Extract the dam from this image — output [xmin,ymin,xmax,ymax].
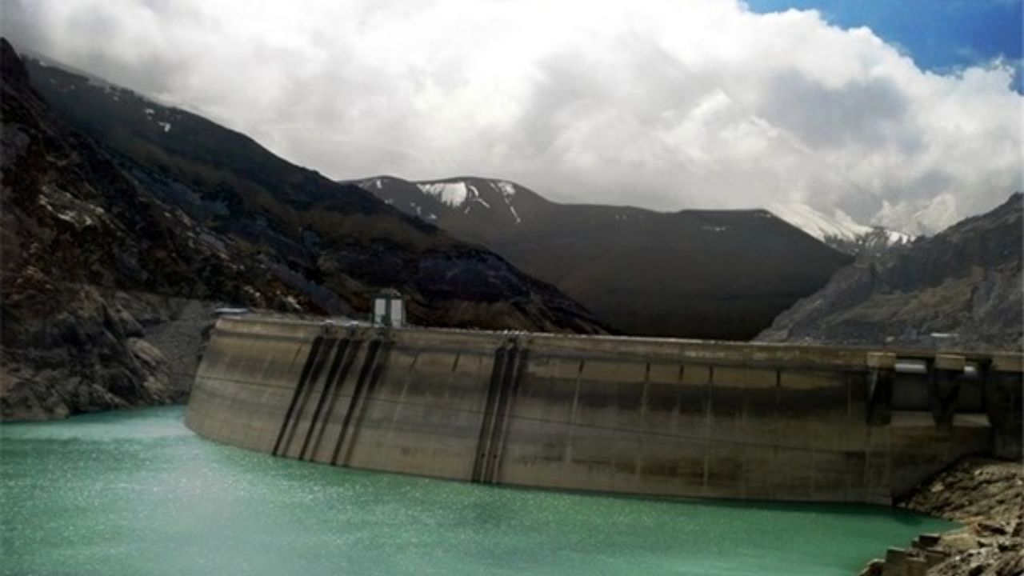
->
[180,317,1024,507]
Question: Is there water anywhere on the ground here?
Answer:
Yes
